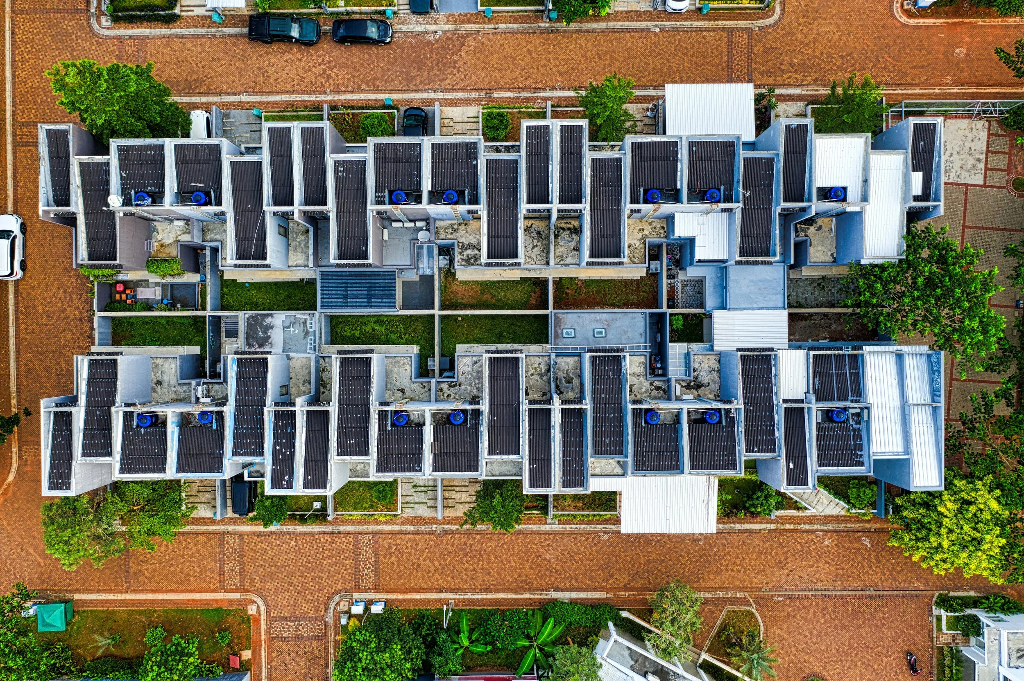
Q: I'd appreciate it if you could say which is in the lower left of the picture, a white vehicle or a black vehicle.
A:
black vehicle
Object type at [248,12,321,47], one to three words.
truck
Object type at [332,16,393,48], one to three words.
car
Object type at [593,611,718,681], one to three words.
house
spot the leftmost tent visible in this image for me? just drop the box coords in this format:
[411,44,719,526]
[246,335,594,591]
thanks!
[37,592,85,631]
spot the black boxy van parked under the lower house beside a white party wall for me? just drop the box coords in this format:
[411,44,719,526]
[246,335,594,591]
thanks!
[224,472,253,523]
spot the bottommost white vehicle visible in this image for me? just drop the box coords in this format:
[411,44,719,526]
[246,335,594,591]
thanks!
[0,216,30,278]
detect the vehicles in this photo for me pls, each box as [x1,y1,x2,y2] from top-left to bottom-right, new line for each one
[0,216,30,278]
[332,16,393,48]
[183,105,212,138]
[400,109,427,136]
[224,472,253,523]
[248,12,321,47]
[654,0,659,15]
[665,0,690,13]
[905,650,924,675]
